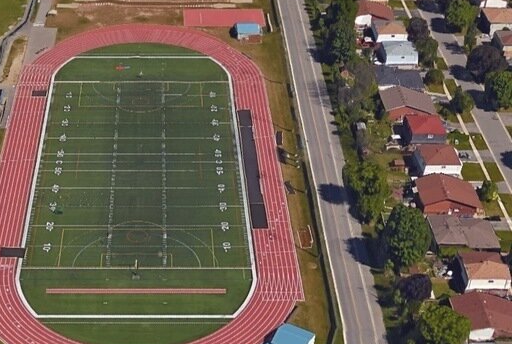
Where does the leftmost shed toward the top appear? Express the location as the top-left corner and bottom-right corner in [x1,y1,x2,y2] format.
[236,20,261,41]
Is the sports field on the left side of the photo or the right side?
left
